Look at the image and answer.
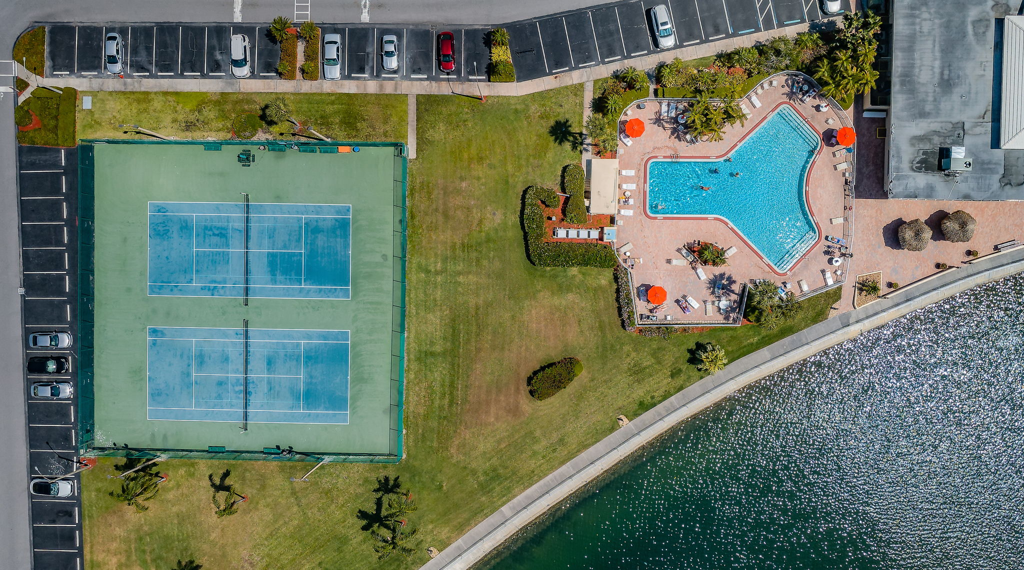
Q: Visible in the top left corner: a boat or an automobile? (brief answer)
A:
automobile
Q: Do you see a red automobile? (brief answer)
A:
Yes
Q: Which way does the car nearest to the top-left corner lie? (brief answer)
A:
from top to bottom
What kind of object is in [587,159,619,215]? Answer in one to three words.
building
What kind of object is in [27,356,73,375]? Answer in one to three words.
car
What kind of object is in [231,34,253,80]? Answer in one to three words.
car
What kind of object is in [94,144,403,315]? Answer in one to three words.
tennis court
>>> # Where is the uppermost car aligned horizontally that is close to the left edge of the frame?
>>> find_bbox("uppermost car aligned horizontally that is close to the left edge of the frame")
[29,331,75,350]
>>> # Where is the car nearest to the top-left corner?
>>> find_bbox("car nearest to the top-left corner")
[104,32,127,77]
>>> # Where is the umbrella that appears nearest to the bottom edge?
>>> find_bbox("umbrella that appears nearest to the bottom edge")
[647,285,667,305]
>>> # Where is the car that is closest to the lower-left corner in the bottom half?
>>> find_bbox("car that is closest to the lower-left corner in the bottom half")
[31,477,76,498]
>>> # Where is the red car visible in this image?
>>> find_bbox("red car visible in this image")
[436,30,456,74]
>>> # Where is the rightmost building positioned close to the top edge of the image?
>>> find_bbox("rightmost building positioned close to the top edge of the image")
[853,0,1024,199]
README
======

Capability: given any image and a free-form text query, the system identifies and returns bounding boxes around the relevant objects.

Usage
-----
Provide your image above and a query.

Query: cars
[231,34,253,80]
[322,33,342,81]
[436,30,456,74]
[27,356,73,375]
[820,0,838,18]
[31,477,76,498]
[104,32,127,77]
[651,4,674,50]
[381,33,399,73]
[29,331,75,350]
[31,381,76,400]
